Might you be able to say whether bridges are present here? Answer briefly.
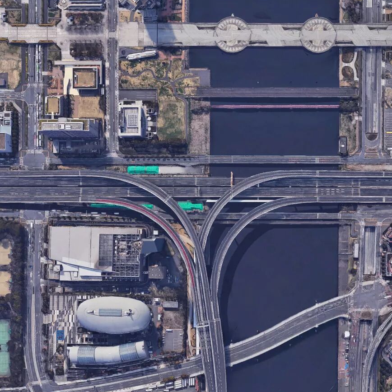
Yes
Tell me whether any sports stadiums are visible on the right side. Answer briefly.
No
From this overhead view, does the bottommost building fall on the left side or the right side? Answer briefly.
left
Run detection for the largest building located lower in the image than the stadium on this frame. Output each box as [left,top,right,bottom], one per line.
[67,343,146,370]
